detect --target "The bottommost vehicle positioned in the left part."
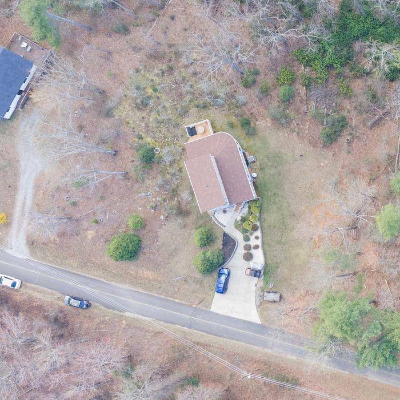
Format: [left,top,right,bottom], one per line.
[65,295,94,310]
